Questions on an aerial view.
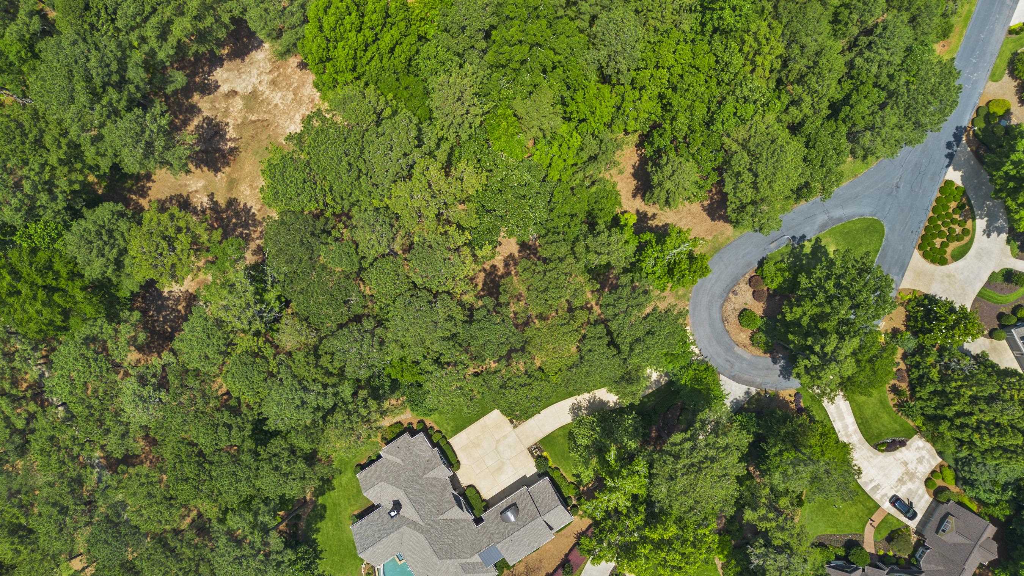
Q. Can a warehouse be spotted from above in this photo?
No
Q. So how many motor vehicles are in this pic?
1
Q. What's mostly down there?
trees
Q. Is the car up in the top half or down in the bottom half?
bottom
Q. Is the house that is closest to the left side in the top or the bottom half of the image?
bottom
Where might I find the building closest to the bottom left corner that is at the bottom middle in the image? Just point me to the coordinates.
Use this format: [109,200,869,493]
[350,431,574,576]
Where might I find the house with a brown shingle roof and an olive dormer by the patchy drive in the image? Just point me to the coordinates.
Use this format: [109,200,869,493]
[822,497,998,576]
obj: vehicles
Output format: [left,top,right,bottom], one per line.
[888,494,917,522]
